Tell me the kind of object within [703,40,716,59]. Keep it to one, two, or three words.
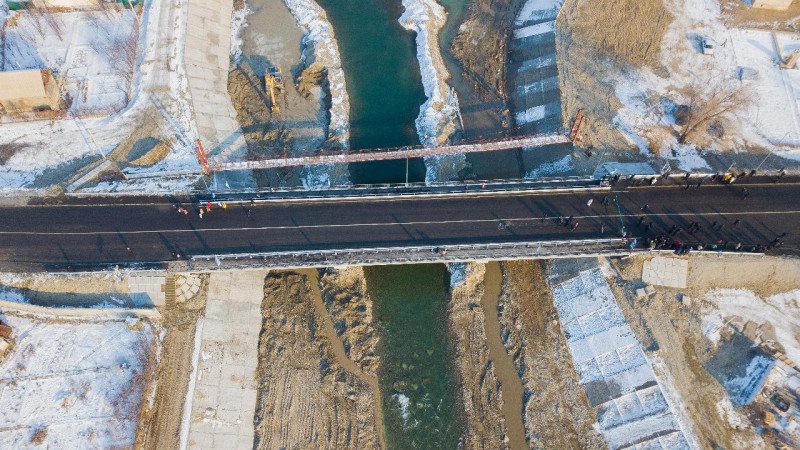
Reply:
vehicle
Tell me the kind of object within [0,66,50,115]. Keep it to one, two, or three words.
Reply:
house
